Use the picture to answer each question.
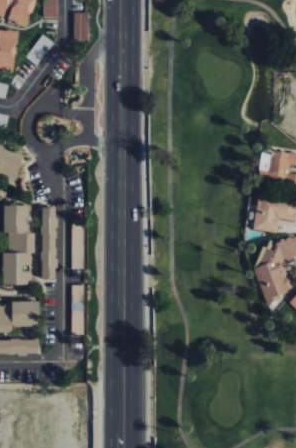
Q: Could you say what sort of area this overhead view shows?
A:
golf course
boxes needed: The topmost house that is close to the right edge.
[258,150,296,185]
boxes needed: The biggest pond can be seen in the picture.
[242,10,272,126]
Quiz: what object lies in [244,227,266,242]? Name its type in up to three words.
swimming pool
